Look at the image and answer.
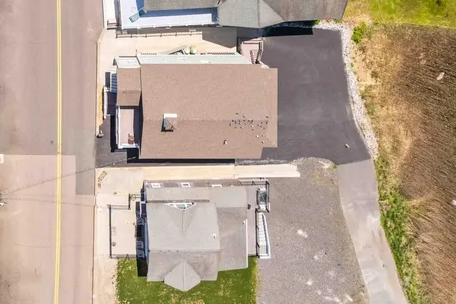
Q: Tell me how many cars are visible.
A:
0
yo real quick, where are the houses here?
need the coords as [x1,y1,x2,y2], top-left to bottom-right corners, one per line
[119,0,348,30]
[103,40,279,159]
[134,174,272,292]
